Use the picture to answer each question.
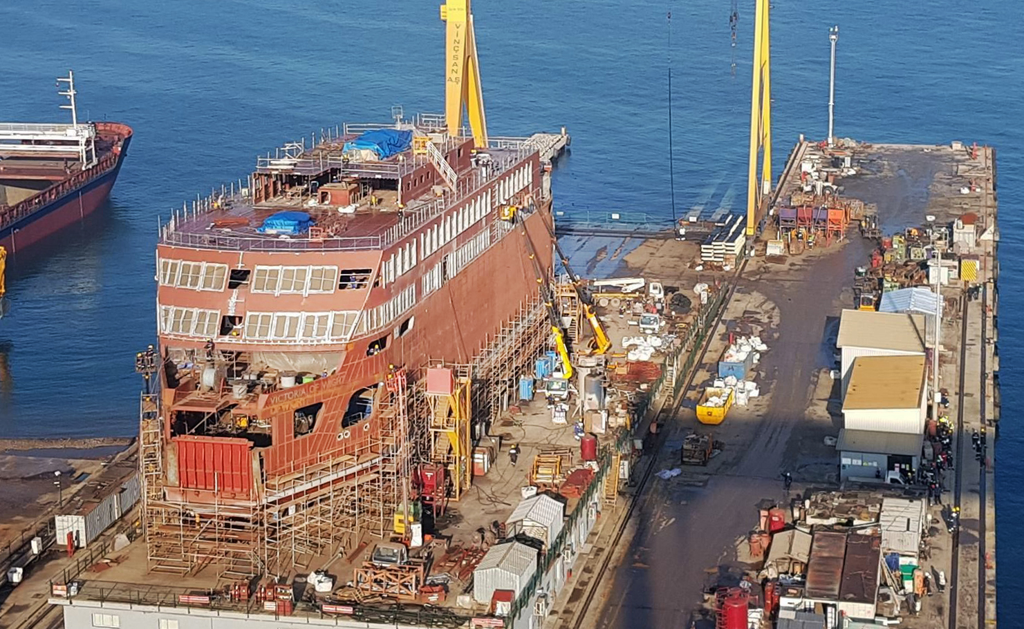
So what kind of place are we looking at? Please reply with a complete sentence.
What you see here is a port.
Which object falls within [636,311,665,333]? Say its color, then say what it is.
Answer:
white truck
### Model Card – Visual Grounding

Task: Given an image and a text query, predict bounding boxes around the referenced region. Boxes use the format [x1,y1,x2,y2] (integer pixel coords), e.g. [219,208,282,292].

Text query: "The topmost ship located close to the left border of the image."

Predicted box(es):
[0,71,125,279]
